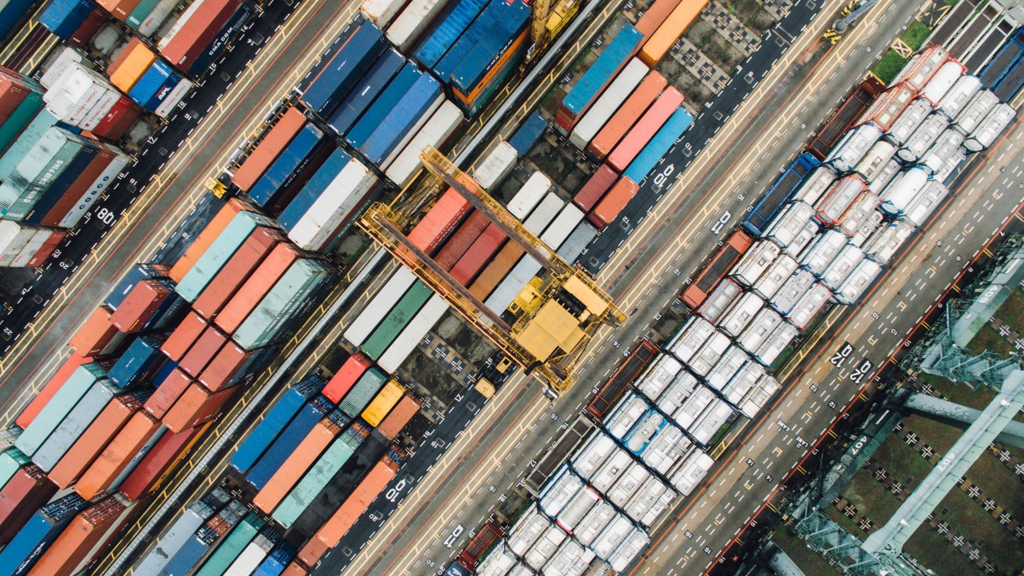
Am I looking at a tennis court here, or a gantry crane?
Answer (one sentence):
The one in the frame is a gantry crane.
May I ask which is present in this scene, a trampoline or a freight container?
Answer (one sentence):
Visible in the photo is a freight container.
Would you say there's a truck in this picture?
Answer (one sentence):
Yes, the frame does contain a truck.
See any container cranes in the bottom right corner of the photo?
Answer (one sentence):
Yes, a container crane shows up in the bottom right corner of the photo.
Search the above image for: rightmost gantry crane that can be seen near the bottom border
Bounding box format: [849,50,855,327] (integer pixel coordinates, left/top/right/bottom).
[767,376,1024,576]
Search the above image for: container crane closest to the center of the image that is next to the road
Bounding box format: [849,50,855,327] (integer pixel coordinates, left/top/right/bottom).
[355,138,636,400]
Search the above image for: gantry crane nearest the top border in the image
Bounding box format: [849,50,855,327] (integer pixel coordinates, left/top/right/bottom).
[515,0,582,75]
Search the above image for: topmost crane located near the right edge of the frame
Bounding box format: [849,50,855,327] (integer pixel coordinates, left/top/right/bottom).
[898,214,1024,394]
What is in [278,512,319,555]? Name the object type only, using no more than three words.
shipping container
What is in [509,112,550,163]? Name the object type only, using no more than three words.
shipping container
